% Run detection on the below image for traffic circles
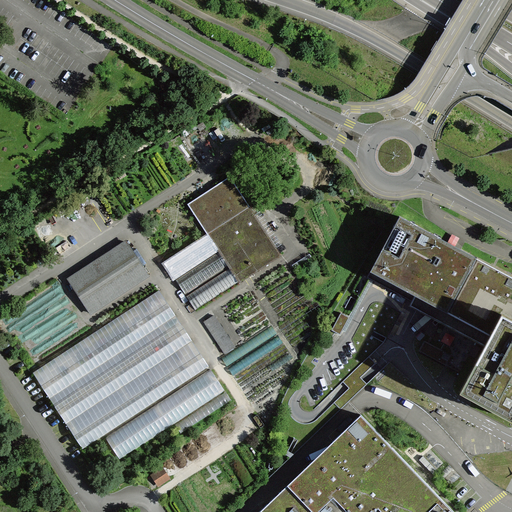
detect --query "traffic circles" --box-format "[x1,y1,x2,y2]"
[356,114,436,194]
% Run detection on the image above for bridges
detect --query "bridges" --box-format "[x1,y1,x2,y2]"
[362,0,512,132]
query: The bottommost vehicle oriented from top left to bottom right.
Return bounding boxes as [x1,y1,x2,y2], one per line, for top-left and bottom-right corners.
[464,459,478,476]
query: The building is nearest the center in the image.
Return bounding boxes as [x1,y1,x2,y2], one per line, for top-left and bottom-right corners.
[208,208,281,282]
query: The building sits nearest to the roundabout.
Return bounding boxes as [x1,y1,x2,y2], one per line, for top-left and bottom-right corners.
[370,218,476,312]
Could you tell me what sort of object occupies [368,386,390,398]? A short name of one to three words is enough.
vehicle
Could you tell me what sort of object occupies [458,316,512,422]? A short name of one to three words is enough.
building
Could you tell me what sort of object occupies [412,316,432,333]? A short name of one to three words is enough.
vehicle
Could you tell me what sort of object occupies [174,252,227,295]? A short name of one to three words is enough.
greenhouse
